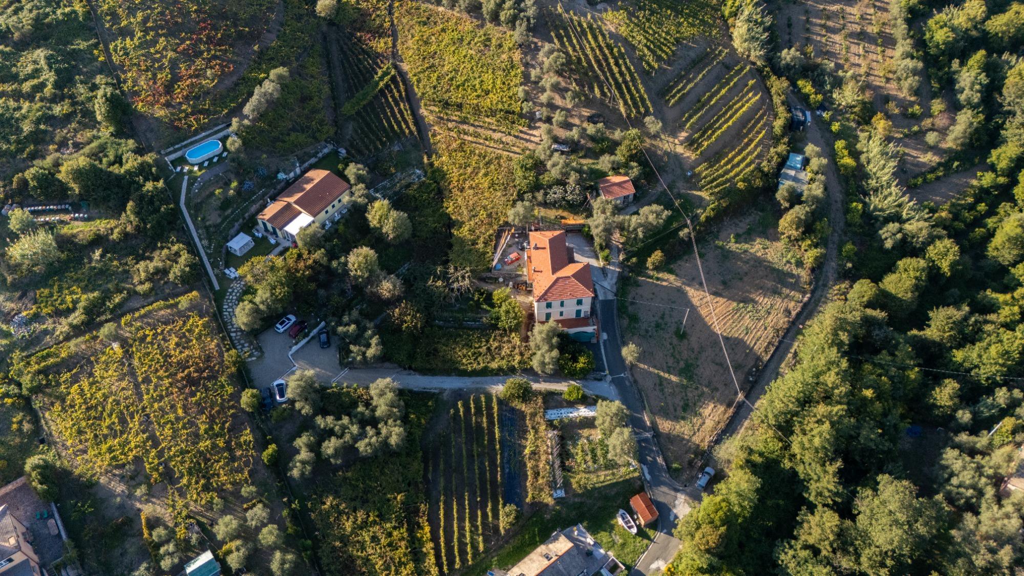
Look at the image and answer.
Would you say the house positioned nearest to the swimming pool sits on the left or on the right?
left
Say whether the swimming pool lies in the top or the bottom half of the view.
top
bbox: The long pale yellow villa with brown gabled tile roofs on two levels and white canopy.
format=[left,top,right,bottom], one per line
[246,171,351,255]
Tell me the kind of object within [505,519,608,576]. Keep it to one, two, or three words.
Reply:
house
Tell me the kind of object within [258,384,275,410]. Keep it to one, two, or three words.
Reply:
car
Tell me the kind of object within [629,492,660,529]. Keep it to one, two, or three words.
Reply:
shed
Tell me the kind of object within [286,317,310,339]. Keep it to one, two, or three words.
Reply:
car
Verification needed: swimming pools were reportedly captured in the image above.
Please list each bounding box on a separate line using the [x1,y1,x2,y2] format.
[187,142,224,163]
